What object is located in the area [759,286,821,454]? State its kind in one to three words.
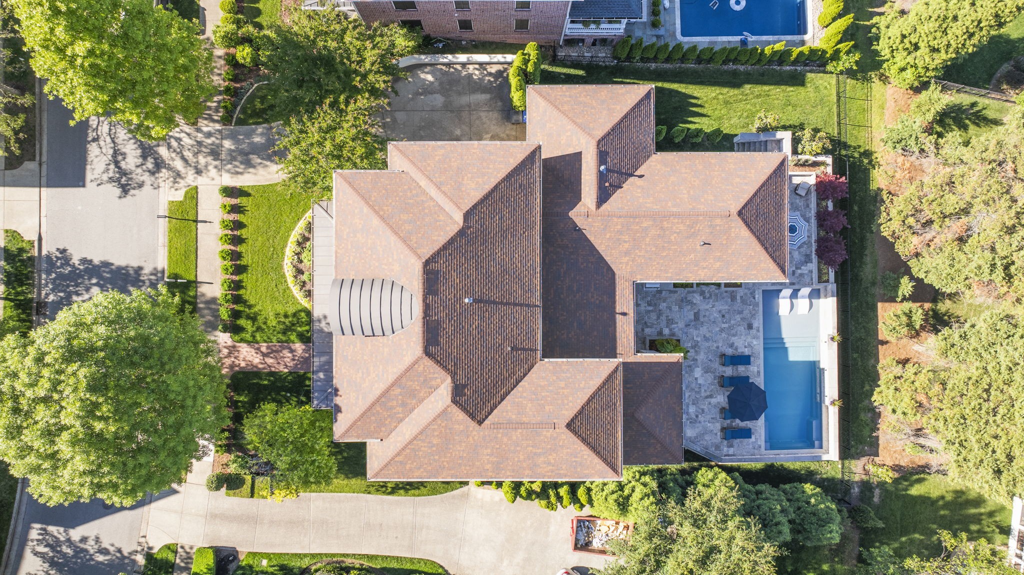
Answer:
swimming pool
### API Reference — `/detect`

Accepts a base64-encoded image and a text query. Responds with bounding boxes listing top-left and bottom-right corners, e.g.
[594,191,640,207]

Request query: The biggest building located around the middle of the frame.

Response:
[312,83,791,484]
